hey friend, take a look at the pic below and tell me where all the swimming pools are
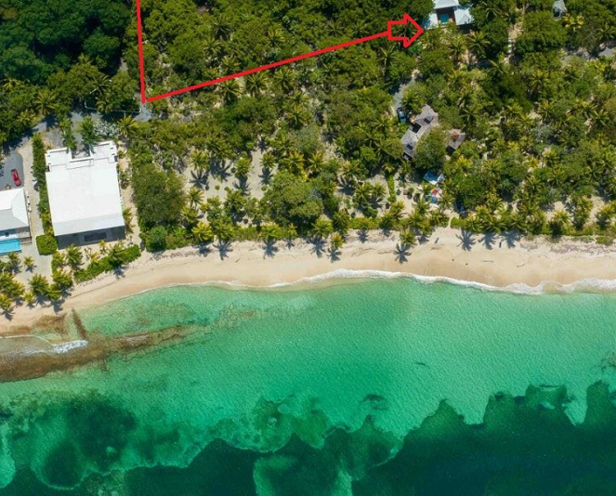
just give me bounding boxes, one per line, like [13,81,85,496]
[0,238,22,254]
[439,11,450,23]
